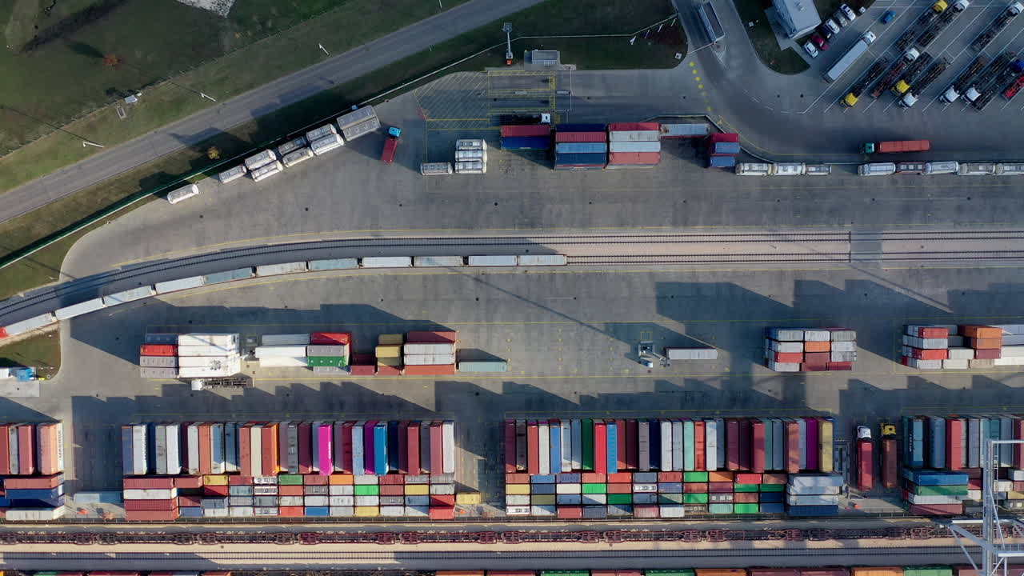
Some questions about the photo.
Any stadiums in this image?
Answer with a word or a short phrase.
No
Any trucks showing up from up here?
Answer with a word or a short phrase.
Yes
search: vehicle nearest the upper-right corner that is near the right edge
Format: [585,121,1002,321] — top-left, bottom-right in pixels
[966,1,1024,56]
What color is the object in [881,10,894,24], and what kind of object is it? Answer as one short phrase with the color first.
blue vehicle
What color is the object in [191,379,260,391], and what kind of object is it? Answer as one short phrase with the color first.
white vehicle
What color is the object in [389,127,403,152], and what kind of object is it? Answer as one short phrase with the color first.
blue vehicle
